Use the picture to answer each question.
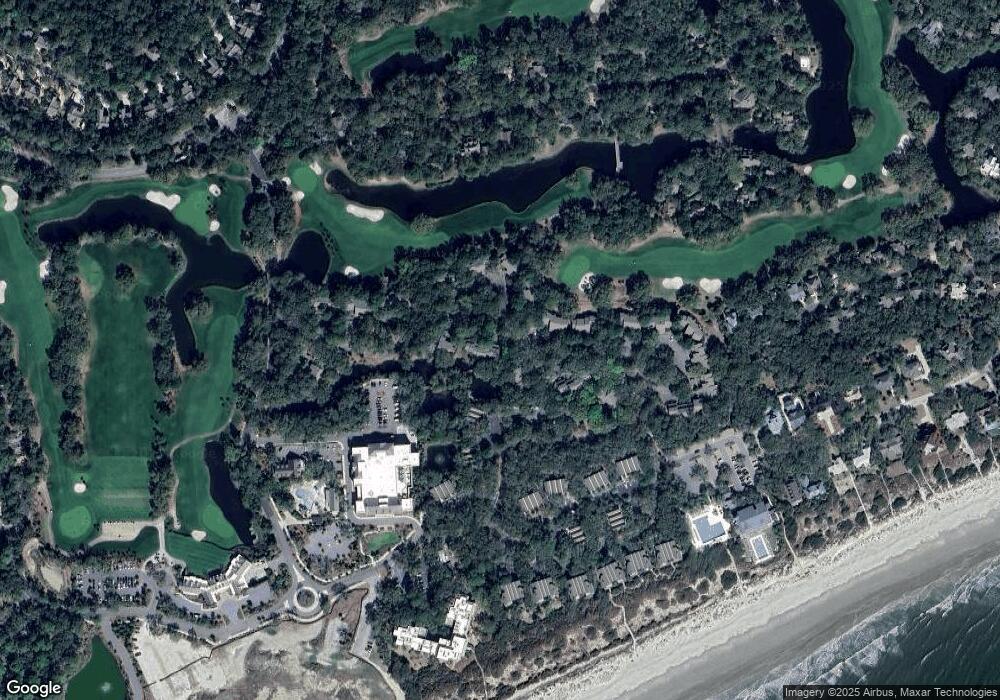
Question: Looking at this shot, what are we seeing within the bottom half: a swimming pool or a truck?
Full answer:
What appears within the bottom half is a swimming pool.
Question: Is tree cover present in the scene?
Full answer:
Yes, tree cover shows up in the scene.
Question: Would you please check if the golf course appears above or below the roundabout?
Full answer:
The position of the golf course is above the roundabout.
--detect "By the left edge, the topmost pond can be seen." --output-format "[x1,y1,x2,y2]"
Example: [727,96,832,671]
[38,196,259,366]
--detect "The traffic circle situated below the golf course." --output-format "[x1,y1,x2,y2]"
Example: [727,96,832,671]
[284,565,328,619]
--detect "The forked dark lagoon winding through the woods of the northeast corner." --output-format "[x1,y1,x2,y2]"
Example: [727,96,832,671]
[895,39,1000,228]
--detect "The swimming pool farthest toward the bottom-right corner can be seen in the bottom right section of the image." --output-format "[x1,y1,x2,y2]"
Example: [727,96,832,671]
[747,525,777,565]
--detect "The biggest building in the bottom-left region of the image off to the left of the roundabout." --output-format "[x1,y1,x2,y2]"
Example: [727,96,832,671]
[176,555,268,619]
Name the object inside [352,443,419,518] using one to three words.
building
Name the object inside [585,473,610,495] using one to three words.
house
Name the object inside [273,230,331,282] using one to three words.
pond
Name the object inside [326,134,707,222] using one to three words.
pond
